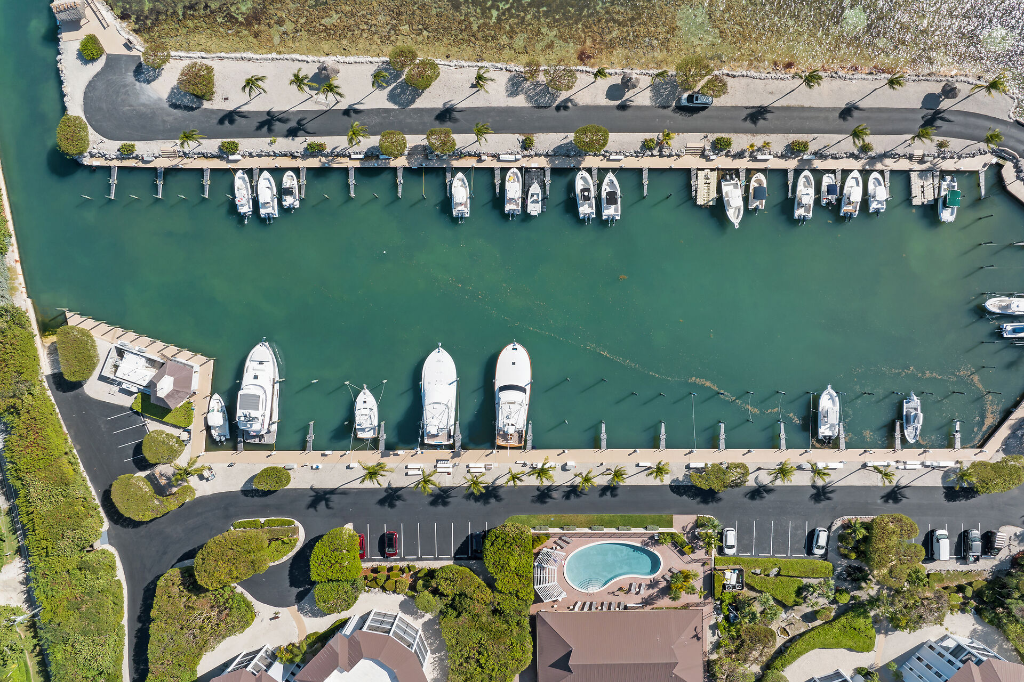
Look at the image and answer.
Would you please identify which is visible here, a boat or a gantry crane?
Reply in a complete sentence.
Looking from above, you can make out a boat.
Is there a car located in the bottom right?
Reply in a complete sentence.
Yes, a car is visible in the bottom right.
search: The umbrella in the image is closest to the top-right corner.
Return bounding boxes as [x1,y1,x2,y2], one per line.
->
[938,81,957,101]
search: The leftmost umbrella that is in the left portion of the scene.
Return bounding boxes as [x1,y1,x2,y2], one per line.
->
[317,59,338,80]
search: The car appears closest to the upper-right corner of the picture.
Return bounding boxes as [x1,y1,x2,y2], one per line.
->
[681,93,711,108]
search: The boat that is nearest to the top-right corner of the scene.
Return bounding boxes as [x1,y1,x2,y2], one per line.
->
[938,177,960,221]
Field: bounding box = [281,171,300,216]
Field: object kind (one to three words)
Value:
boat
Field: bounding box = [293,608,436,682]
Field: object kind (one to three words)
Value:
building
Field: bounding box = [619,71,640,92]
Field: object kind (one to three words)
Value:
umbrella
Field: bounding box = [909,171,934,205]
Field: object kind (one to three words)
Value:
pier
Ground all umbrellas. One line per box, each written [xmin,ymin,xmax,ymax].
[938,81,957,101]
[619,71,640,92]
[317,59,338,80]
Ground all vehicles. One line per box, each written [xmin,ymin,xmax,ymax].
[811,527,827,555]
[930,528,950,563]
[471,530,485,558]
[384,529,398,558]
[202,466,219,479]
[356,531,368,558]
[681,93,711,108]
[180,427,193,442]
[985,529,1006,557]
[722,526,736,554]
[962,528,981,564]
